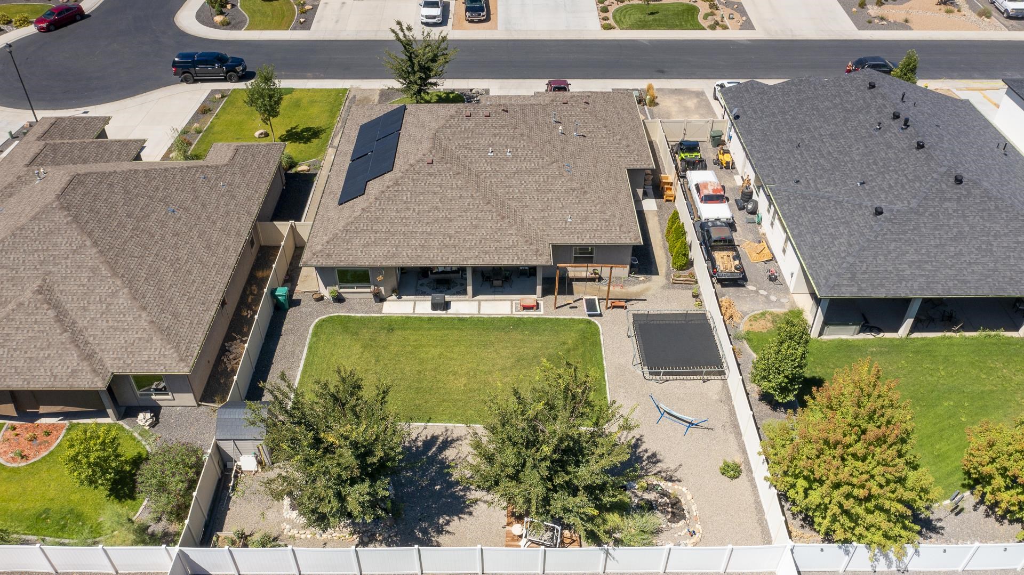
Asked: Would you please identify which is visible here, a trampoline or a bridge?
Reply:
trampoline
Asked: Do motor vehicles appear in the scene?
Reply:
Yes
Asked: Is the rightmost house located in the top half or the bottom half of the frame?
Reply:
top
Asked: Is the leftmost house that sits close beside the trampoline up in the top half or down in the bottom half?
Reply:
top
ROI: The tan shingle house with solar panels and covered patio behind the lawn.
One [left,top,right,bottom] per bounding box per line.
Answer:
[298,88,657,299]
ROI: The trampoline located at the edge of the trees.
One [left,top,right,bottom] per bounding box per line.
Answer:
[627,310,724,385]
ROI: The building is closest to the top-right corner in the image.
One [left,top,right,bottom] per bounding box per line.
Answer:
[994,70,1024,145]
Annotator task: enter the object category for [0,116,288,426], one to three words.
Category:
house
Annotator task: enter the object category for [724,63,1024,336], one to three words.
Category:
house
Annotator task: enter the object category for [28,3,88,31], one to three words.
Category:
car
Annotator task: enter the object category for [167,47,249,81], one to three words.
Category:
truck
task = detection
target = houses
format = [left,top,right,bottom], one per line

[724,63,1024,336]
[994,70,1024,145]
[0,116,288,426]
[298,88,657,299]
